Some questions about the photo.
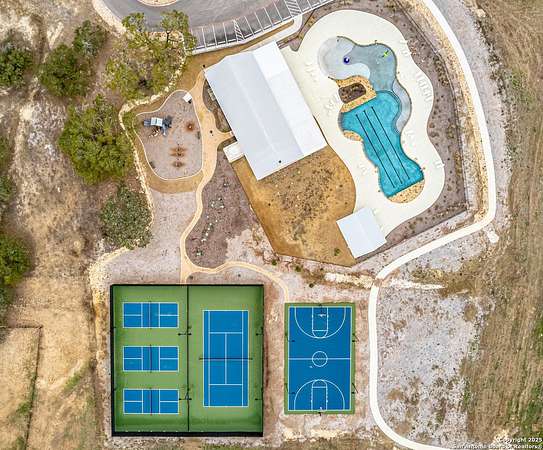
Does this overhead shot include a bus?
No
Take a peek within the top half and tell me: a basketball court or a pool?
pool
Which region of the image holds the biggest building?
top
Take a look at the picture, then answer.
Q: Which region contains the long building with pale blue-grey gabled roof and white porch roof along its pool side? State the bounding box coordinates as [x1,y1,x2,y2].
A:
[204,38,328,180]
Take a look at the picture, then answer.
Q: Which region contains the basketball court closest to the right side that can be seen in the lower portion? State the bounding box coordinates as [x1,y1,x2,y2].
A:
[284,303,355,414]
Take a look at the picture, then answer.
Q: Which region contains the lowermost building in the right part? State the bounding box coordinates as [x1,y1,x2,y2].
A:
[336,205,388,258]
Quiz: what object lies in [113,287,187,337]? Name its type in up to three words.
sports court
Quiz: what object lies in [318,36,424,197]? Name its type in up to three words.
swimming pool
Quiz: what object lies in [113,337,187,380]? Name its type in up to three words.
sports court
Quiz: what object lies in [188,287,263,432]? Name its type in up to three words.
tennis court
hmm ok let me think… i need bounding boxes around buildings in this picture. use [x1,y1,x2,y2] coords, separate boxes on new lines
[204,38,328,180]
[336,205,388,258]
